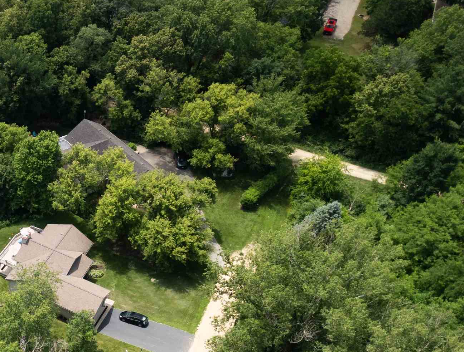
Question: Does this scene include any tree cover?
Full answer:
Yes, there's tree cover in this view.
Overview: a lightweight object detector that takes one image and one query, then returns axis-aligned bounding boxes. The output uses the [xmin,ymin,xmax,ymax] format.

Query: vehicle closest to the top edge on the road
[323,19,337,34]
